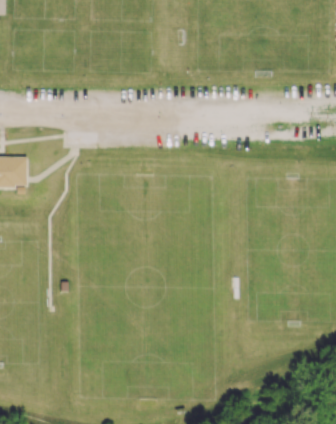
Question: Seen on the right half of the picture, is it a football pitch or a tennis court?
football pitch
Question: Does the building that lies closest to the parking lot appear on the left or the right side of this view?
left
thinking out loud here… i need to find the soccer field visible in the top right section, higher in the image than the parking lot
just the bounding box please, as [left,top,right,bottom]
[197,0,330,72]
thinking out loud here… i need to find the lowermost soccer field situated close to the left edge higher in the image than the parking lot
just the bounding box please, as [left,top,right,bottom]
[13,30,76,72]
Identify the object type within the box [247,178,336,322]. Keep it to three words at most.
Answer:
soccer field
